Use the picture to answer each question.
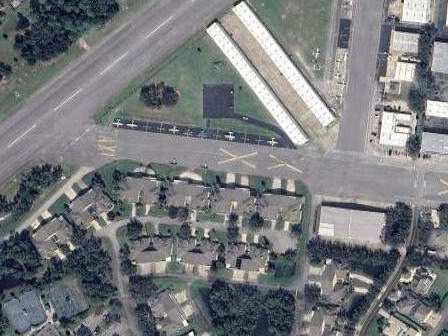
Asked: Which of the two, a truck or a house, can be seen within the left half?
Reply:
house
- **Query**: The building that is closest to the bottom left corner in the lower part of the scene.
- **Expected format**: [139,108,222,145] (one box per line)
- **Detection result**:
[32,217,72,256]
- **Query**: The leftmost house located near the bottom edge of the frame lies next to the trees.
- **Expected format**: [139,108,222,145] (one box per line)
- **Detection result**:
[151,288,192,331]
